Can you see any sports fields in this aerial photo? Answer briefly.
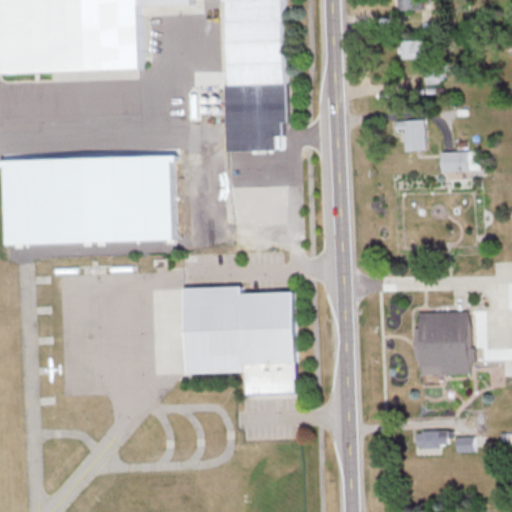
No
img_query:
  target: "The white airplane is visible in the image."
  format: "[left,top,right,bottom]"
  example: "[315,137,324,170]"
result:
[43,356,60,384]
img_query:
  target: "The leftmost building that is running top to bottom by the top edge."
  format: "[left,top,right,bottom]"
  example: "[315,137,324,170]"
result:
[226,0,290,155]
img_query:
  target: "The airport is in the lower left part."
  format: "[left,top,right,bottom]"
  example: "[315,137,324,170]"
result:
[20,262,236,512]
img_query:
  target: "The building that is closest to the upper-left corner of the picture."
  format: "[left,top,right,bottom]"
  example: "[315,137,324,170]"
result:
[0,0,150,78]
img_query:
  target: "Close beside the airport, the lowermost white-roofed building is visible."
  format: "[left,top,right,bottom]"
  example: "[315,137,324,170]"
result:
[184,287,298,394]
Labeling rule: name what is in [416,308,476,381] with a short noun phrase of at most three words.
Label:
house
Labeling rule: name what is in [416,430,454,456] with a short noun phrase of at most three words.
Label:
house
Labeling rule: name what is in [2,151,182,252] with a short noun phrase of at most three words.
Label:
hangar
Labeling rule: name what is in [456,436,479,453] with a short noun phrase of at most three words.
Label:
building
